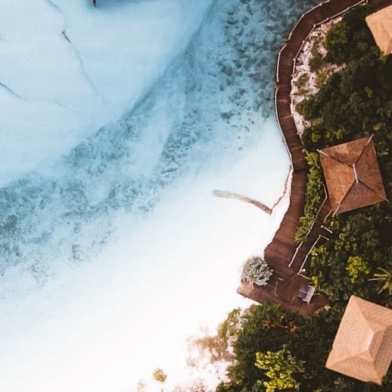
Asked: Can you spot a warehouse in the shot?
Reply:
No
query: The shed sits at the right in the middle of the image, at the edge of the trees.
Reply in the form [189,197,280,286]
[316,136,388,218]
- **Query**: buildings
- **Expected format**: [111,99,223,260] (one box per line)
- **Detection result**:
[366,6,392,60]
[326,295,392,386]
[316,136,388,218]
